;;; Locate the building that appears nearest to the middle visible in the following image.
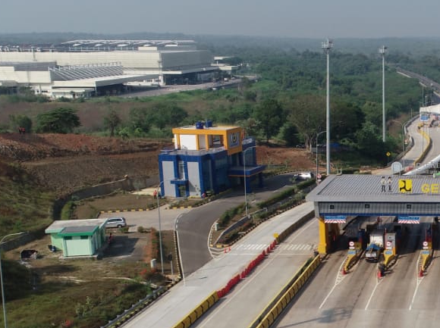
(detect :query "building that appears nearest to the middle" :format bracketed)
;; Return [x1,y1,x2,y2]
[152,122,264,197]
